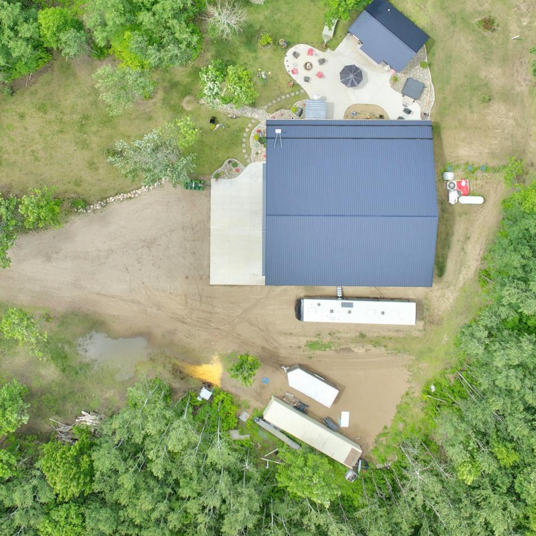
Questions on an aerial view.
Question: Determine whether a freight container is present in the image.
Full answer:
Yes, a freight container is visible in the scene.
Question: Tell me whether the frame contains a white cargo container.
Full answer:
Yes, you can see a white cargo container in this photo.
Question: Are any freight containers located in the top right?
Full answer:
No, I can find no freight container in the top right.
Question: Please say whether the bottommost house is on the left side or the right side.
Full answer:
You can find the bottommost house on the right side of the picture.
